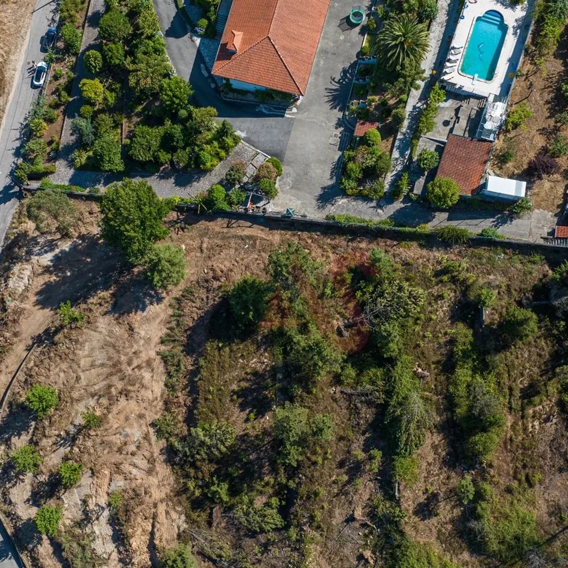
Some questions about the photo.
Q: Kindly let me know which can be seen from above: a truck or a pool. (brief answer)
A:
pool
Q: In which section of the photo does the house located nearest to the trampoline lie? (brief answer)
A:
top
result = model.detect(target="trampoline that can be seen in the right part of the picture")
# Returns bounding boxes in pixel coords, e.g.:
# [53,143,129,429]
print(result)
[349,5,366,25]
